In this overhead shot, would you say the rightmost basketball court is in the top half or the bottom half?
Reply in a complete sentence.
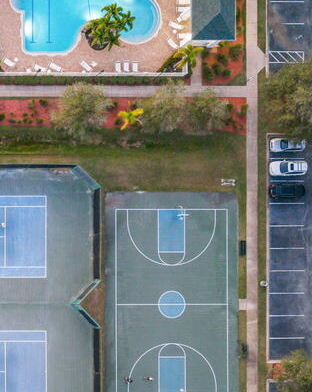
You can find the rightmost basketball court in the bottom half.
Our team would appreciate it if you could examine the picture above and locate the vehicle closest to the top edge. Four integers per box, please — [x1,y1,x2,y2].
[269,137,305,153]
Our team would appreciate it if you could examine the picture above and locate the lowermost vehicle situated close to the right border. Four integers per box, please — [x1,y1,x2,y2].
[269,182,305,199]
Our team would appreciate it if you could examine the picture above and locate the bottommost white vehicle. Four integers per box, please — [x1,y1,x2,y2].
[268,159,307,176]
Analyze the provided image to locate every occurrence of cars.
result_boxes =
[269,137,305,153]
[269,182,305,199]
[268,159,307,176]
